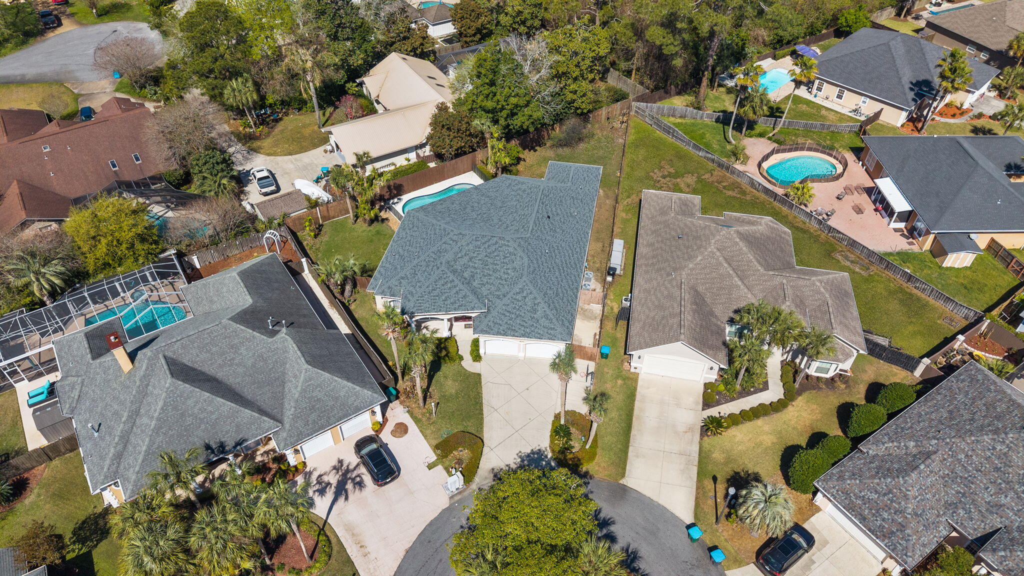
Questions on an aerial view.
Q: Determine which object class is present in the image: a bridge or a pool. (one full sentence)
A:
The image shows a pool.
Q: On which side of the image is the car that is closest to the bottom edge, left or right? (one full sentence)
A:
The car that is closest to the bottom edge sits on the right side.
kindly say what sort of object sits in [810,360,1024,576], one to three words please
house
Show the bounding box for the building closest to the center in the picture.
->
[366,161,603,359]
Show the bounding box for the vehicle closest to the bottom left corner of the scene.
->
[354,431,400,490]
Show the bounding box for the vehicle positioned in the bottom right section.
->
[759,525,822,576]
